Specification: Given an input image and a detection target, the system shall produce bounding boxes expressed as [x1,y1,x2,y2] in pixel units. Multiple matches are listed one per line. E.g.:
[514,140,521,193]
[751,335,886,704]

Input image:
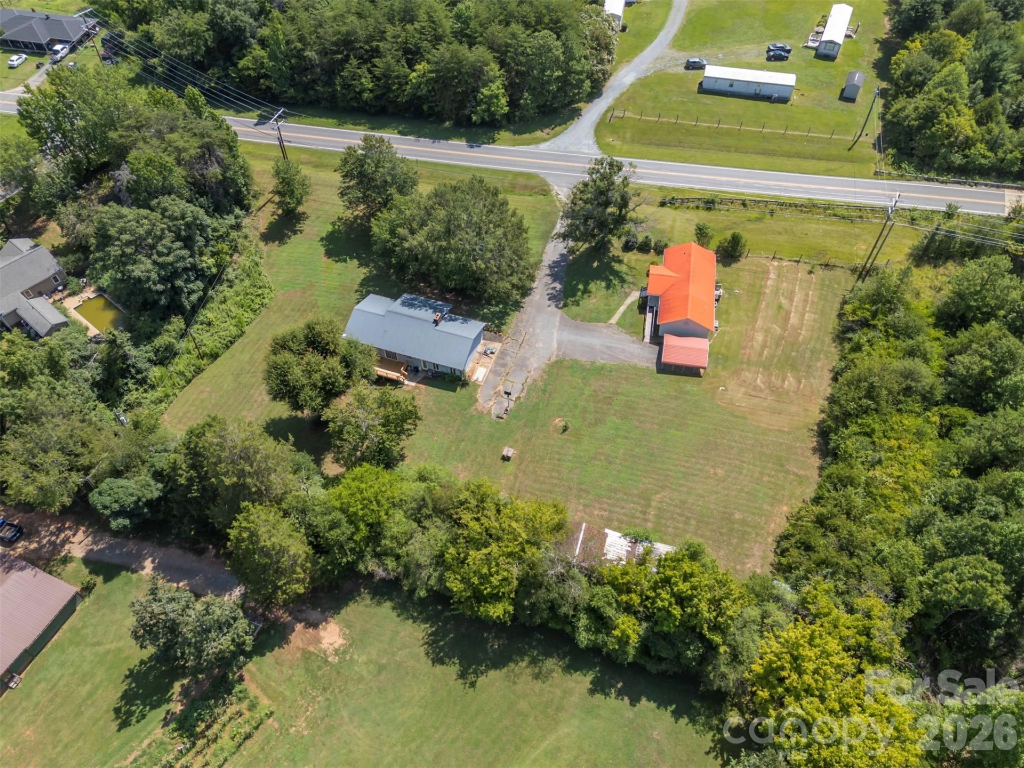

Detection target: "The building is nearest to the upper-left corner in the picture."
[0,8,105,53]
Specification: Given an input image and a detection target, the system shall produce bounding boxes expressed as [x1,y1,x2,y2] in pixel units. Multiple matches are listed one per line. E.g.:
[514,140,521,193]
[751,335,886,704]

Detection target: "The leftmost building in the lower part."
[0,550,82,693]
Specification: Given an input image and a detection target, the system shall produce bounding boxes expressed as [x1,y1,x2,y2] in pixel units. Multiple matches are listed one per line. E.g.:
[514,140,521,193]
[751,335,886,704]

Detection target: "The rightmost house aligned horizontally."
[702,68,794,97]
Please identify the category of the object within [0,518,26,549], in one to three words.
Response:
truck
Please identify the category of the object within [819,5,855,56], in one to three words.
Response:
house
